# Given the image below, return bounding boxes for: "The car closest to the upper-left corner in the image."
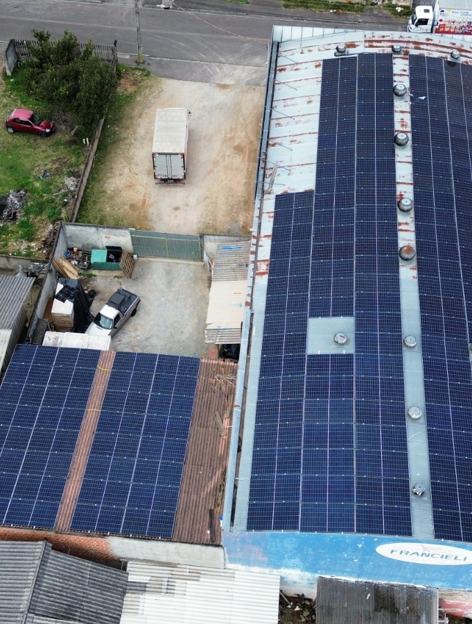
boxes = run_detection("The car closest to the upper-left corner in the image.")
[2,107,55,138]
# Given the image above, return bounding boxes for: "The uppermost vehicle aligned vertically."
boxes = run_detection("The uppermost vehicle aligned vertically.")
[153,107,193,185]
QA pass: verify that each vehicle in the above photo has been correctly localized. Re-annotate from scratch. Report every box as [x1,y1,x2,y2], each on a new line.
[153,107,193,185]
[407,0,472,35]
[86,285,145,346]
[2,107,55,138]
